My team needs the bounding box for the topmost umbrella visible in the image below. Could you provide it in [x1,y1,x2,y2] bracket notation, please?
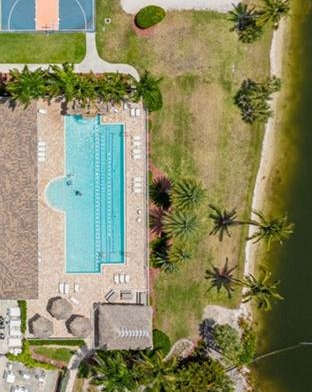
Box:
[49,297,73,321]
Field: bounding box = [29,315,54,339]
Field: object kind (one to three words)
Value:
umbrella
